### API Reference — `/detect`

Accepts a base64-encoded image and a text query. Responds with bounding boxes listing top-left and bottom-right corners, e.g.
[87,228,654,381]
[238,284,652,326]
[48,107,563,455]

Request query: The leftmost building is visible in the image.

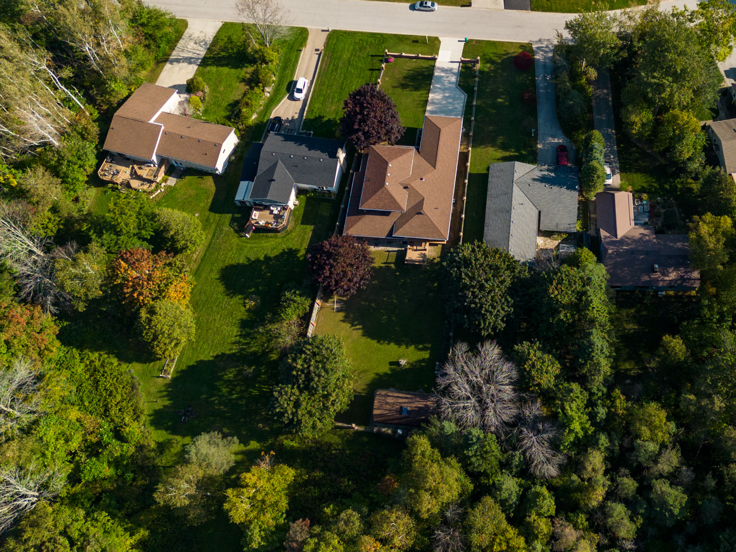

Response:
[103,96,241,176]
